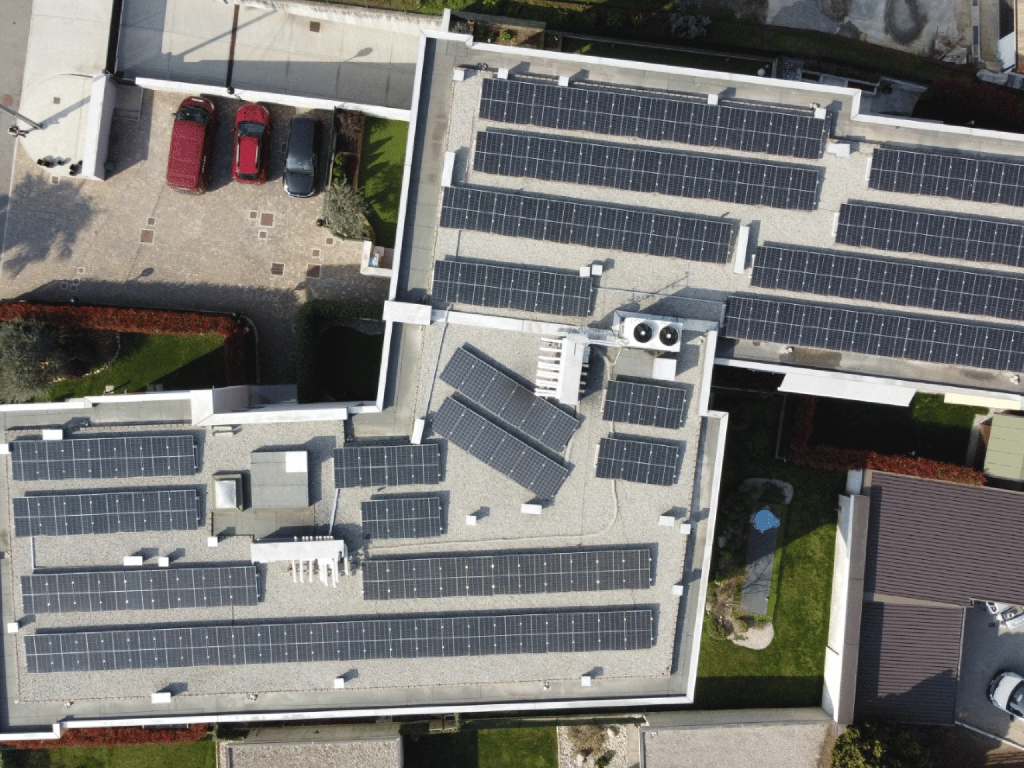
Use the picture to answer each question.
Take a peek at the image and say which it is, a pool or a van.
van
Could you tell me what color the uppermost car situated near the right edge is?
white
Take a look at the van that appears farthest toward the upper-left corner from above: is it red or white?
red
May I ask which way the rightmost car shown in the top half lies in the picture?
vertically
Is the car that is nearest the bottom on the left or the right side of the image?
right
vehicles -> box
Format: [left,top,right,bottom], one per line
[990,606,1024,638]
[229,105,272,187]
[981,674,1024,726]
[162,98,219,196]
[279,115,323,200]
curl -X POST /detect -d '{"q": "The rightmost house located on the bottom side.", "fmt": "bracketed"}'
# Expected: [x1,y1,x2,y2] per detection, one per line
[854,474,1024,726]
